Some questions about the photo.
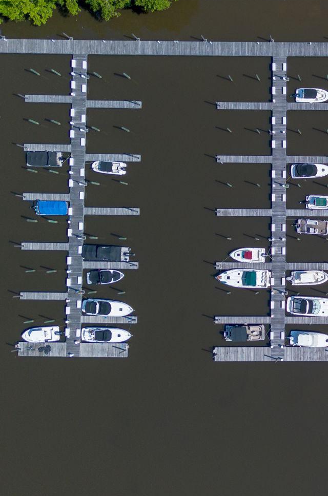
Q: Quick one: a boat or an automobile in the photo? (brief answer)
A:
boat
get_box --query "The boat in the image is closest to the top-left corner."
[26,151,68,167]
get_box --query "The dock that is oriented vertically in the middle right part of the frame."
[214,56,328,362]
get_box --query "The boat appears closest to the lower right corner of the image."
[286,330,328,347]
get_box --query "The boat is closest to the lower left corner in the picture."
[20,327,66,343]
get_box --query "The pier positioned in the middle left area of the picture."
[18,54,142,358]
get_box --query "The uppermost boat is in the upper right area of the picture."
[287,88,328,104]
